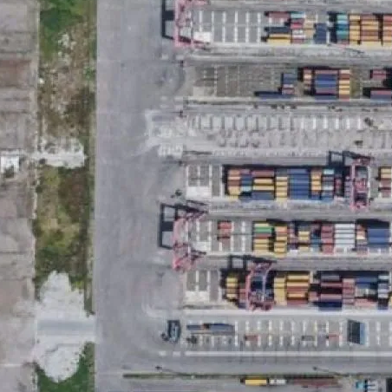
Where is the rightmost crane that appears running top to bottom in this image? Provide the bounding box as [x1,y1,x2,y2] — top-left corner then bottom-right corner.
[350,155,377,210]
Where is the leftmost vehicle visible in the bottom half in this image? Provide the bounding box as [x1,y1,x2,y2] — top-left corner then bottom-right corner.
[164,323,179,344]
